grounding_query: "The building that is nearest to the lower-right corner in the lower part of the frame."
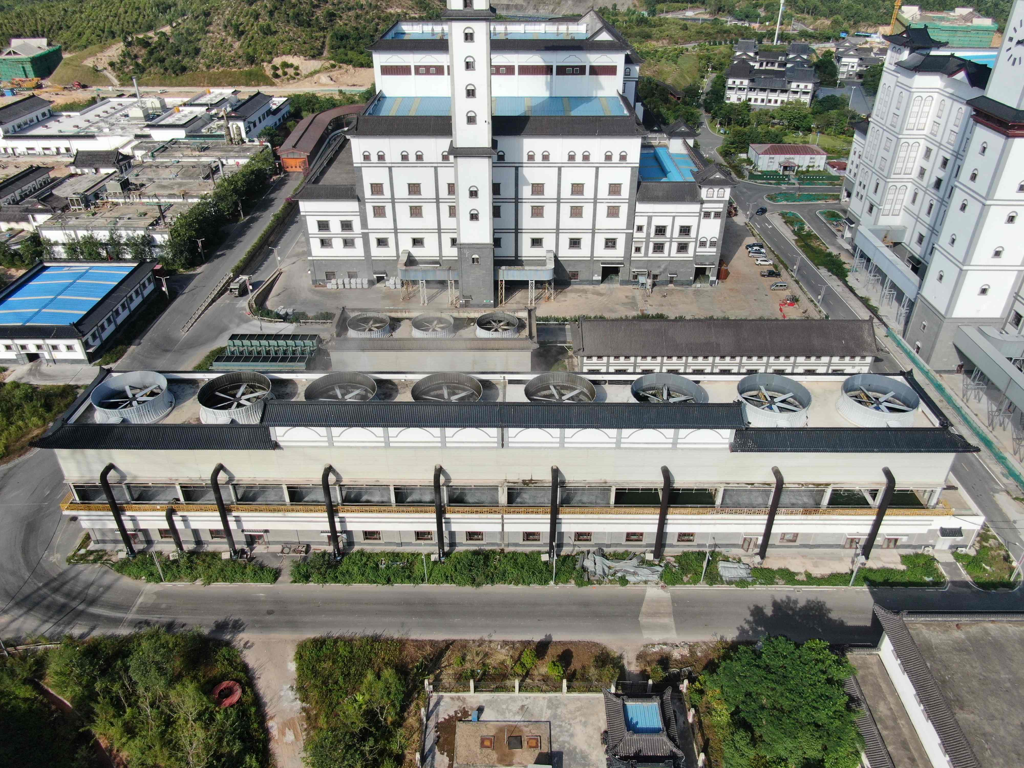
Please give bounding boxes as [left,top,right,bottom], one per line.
[823,591,1024,768]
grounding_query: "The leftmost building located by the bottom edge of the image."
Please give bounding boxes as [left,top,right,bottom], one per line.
[599,680,692,768]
